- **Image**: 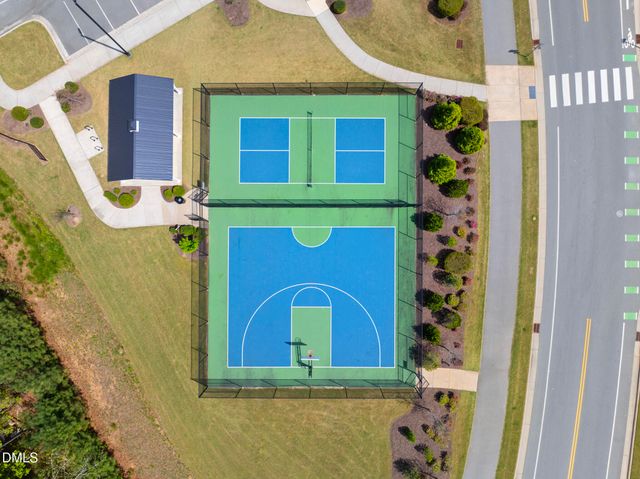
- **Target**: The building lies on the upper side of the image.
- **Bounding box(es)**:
[107,73,183,186]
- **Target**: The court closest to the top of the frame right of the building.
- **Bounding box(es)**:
[208,95,416,208]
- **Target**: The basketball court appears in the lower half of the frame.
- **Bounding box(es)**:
[208,208,416,388]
